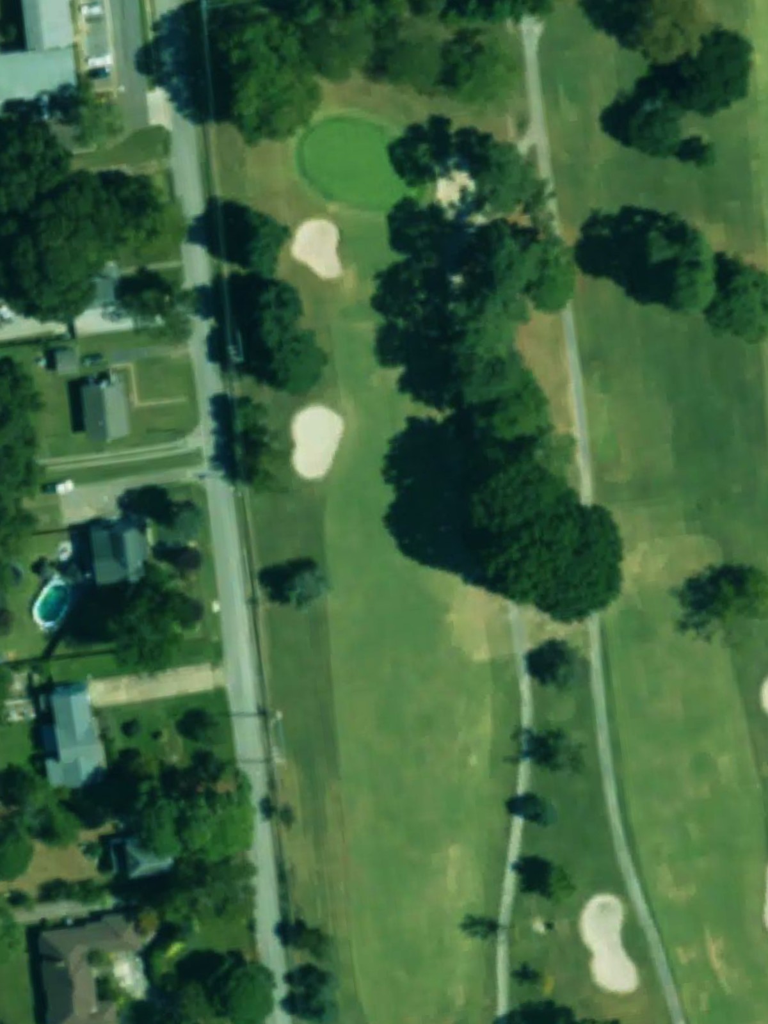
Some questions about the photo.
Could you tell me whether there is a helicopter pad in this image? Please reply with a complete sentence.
No, the photo shows no helicopter pad.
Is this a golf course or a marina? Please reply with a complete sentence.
The picture captures a golf course.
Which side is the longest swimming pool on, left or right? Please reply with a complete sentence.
It is on the left.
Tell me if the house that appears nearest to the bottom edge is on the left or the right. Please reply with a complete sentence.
It is on the left.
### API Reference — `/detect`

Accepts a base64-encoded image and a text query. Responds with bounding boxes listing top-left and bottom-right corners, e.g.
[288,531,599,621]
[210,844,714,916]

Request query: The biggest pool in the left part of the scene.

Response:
[31,571,72,632]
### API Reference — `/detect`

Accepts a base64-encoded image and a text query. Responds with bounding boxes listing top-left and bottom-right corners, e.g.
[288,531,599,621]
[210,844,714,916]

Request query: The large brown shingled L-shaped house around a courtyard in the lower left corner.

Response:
[39,912,152,1024]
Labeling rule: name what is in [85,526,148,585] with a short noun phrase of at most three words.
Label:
house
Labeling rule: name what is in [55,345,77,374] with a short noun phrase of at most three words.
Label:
shed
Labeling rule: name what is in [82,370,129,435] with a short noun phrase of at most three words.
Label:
house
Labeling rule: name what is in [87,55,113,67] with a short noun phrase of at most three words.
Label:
vehicle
